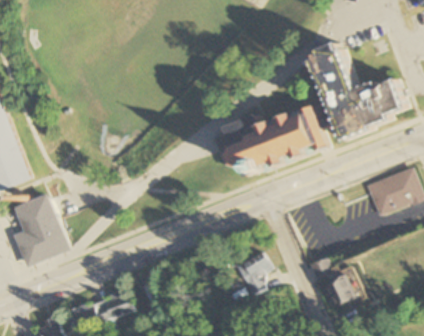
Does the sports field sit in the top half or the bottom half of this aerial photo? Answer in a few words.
top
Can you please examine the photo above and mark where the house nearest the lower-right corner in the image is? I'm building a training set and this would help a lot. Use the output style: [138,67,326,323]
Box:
[333,268,366,304]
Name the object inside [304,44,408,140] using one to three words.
building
